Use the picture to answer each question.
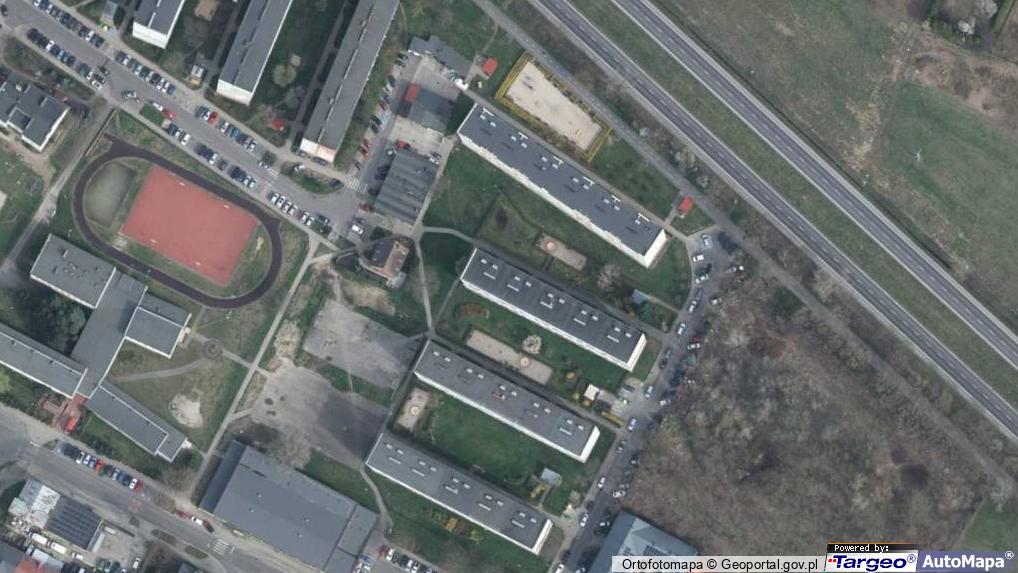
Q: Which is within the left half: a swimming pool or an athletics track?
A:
athletics track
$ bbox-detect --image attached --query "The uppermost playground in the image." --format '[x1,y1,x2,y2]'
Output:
[508,62,600,150]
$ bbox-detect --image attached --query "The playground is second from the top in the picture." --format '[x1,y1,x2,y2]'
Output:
[539,233,587,271]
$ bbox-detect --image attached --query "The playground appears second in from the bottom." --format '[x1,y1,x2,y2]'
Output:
[468,330,553,385]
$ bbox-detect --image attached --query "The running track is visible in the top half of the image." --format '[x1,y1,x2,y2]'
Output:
[74,133,283,309]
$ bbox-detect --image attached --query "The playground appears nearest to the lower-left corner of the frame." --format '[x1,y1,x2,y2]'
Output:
[397,387,428,431]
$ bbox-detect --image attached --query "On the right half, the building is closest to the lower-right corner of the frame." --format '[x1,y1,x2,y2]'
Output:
[588,512,698,573]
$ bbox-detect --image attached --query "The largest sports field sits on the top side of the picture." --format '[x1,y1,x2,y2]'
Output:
[118,163,261,287]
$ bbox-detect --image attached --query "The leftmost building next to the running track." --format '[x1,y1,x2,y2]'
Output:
[0,67,72,154]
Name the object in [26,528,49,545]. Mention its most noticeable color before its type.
white vehicle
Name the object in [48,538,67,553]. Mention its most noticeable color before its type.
white vehicle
